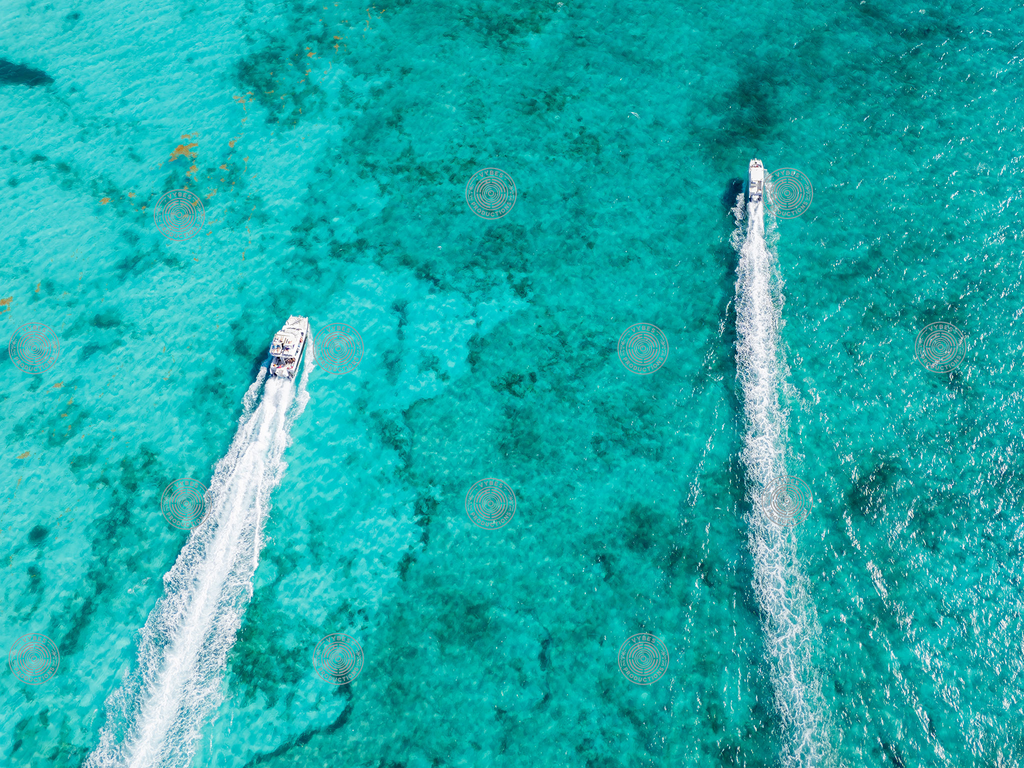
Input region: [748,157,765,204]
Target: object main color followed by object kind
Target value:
white boat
